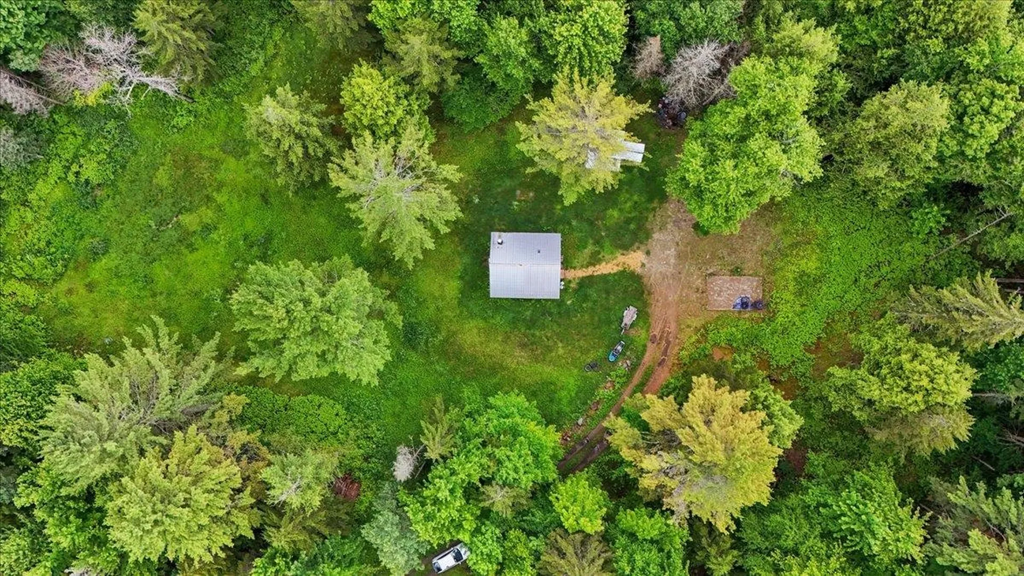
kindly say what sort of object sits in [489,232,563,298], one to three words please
building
